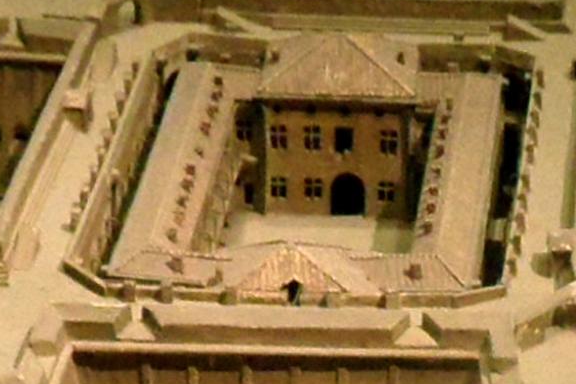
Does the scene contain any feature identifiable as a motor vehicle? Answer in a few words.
No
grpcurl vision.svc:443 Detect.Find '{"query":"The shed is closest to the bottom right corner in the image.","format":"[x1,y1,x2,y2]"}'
[545,233,575,275]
